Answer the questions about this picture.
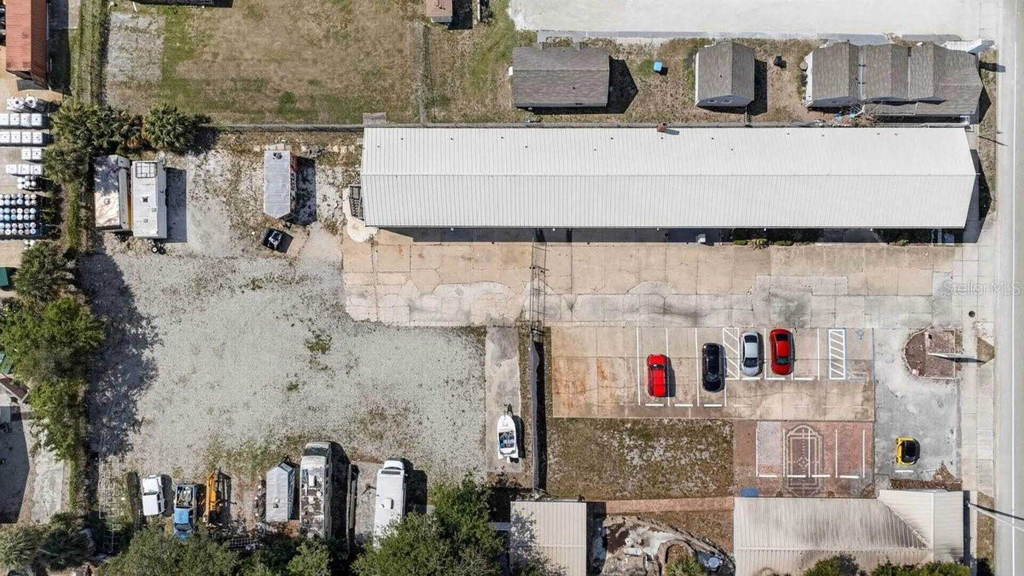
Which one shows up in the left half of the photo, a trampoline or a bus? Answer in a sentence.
The one visible in the left half of the photo is a bus.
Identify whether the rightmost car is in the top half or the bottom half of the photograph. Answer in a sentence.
The rightmost car sits in the bottom half of the picture.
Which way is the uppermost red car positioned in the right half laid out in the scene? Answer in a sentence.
I'd say the uppermost red car positioned in the right half is aligned from top to bottom in the picture.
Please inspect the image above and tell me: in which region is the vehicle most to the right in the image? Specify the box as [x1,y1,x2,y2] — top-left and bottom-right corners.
[899,439,922,466]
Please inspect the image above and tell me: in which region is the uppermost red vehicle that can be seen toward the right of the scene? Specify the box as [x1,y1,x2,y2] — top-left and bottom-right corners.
[773,329,796,375]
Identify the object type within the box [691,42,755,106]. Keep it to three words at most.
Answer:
house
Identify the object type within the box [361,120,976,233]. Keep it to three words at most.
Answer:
building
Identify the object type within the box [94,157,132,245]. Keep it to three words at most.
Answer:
camper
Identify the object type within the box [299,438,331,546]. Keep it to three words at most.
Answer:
bus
